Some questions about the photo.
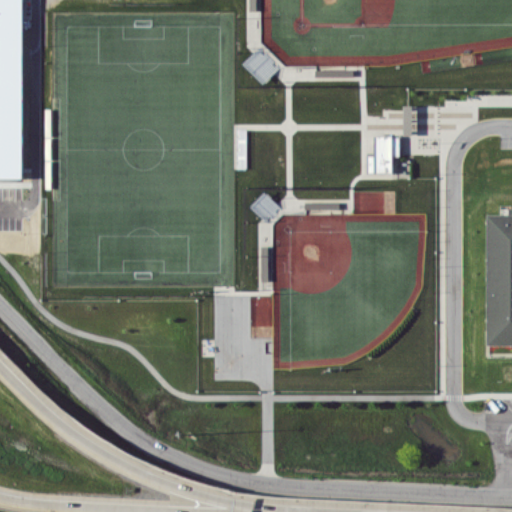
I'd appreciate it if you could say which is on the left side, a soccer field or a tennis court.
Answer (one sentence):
The one visible on the left side is a soccer field.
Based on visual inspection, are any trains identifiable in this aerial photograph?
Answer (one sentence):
No, I find no train anywhere in the image.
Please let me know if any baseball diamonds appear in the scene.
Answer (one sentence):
Yes, a baseball diamond can be made out from above.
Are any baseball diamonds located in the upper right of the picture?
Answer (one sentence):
Yes, a baseball diamond appears in the upper right of the picture.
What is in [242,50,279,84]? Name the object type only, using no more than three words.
building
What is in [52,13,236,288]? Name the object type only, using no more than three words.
soccer field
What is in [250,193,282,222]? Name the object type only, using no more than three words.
building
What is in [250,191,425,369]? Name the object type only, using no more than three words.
baseball field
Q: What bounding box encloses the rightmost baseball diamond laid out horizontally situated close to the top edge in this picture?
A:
[264,0,512,74]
